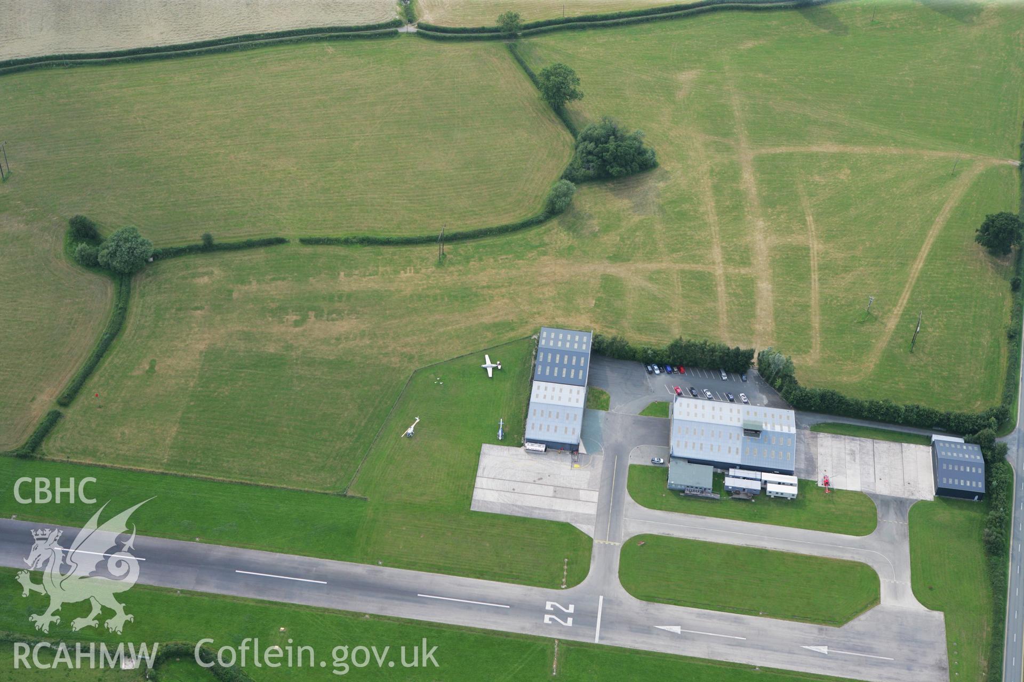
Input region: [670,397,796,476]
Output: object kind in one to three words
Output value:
hangar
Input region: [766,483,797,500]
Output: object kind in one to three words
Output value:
building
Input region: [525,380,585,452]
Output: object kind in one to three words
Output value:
hangar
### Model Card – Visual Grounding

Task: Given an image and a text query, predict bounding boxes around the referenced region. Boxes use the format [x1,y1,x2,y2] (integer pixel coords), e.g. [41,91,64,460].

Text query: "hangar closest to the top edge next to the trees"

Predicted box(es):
[534,326,592,386]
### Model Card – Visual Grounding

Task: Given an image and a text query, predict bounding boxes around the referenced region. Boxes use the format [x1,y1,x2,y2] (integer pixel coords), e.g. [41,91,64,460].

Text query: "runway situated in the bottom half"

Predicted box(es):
[0,519,950,682]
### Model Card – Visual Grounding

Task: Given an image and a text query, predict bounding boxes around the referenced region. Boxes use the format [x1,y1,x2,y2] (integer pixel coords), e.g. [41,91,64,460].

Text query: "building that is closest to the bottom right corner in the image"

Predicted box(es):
[932,435,985,500]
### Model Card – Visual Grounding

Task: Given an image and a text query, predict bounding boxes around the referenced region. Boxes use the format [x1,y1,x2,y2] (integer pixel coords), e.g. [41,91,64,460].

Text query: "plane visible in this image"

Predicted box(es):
[481,355,501,377]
